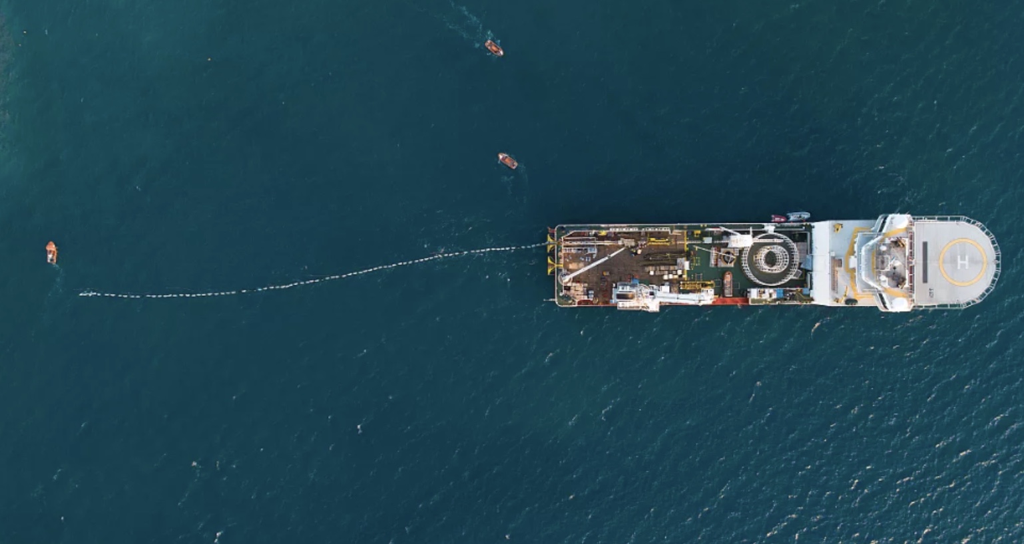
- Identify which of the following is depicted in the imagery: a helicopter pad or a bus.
helicopter pad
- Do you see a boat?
Yes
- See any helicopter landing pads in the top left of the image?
No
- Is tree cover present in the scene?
No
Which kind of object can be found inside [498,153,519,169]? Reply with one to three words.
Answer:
boat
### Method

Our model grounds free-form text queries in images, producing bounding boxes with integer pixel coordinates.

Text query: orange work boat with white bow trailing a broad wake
[483,37,504,54]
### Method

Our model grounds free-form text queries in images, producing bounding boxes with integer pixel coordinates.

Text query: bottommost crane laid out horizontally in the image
[612,281,714,311]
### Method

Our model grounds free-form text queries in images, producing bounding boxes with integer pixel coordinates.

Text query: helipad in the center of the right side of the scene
[911,216,1001,309]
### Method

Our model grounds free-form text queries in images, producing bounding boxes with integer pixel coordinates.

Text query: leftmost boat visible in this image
[44,241,57,265]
